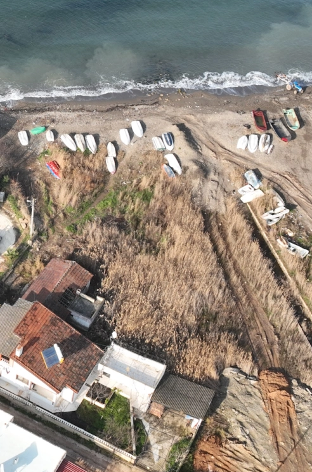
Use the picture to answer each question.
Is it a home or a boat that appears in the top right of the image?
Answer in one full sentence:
The feature located in the top right of the image is a boat.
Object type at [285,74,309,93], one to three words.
work vehicle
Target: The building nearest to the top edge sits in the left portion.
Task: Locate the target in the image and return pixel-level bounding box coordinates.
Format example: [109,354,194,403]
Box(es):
[22,259,103,336]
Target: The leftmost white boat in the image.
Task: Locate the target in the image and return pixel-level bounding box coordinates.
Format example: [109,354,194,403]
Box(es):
[16,130,28,149]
